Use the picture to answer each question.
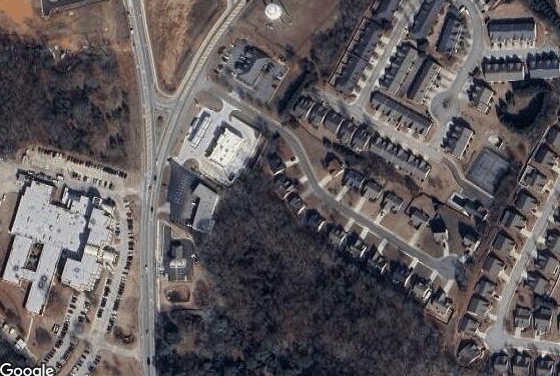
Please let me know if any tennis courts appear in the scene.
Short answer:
Yes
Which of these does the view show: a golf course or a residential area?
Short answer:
residential area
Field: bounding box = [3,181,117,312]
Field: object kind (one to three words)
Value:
building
